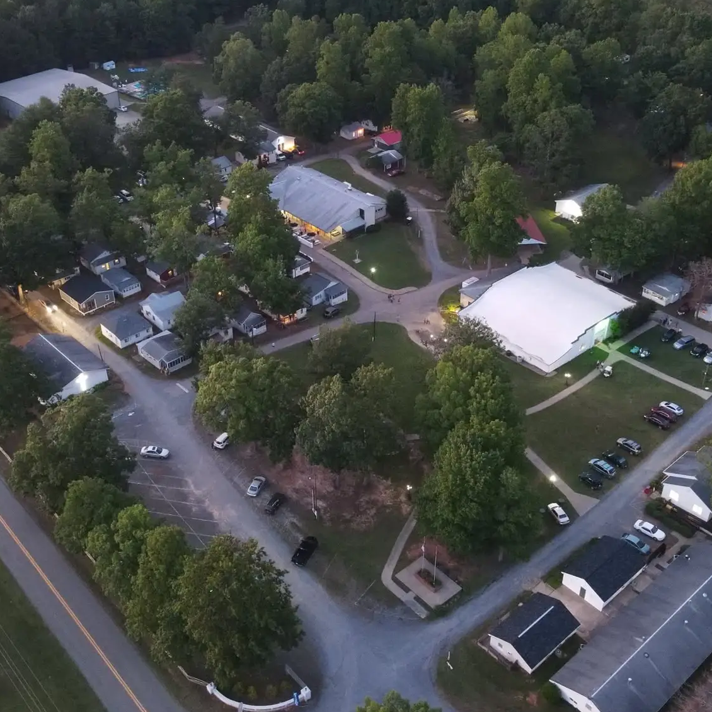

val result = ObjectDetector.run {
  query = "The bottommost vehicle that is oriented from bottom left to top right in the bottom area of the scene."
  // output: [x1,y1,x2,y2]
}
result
[289,533,321,569]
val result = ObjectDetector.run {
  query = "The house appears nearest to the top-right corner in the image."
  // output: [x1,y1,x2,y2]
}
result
[554,181,605,223]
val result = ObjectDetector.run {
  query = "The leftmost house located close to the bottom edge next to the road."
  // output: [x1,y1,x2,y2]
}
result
[479,592,576,686]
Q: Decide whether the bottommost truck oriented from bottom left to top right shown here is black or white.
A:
black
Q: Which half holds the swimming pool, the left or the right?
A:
left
